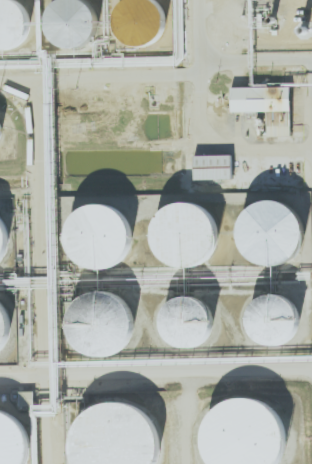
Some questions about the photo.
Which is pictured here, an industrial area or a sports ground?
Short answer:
industrial area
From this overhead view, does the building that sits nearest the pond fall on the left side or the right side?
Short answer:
right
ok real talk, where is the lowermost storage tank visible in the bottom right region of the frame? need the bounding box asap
[198,398,288,464]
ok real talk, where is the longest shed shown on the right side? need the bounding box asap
[230,86,290,112]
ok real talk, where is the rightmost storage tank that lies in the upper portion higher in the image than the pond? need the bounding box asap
[110,0,168,50]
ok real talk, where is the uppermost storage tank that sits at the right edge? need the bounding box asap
[234,199,306,268]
